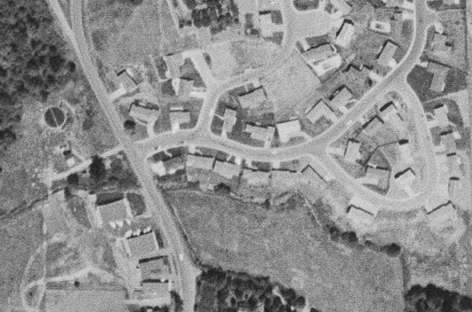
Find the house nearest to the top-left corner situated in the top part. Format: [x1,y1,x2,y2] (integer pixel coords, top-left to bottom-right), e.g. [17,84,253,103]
[116,70,140,94]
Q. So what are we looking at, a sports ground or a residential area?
residential area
